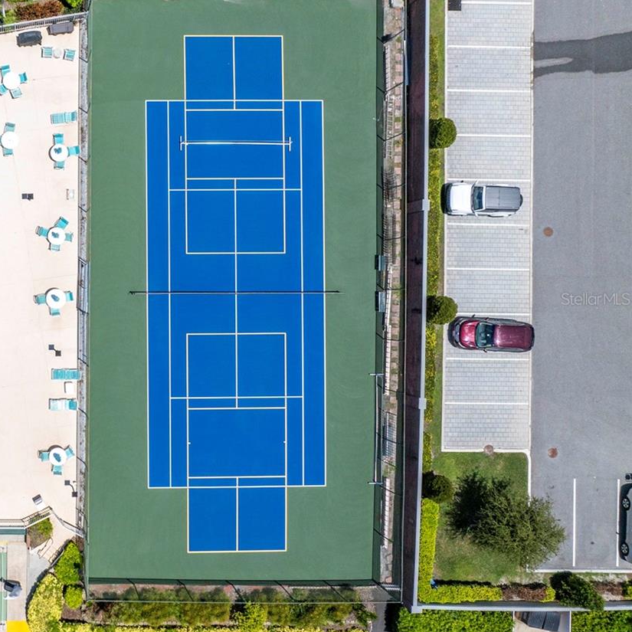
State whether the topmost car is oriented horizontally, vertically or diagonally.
horizontally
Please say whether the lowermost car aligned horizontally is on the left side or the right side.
right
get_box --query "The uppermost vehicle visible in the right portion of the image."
[445,178,527,217]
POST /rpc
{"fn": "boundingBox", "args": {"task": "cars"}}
[622,487,632,561]
[448,315,537,353]
[445,178,527,217]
